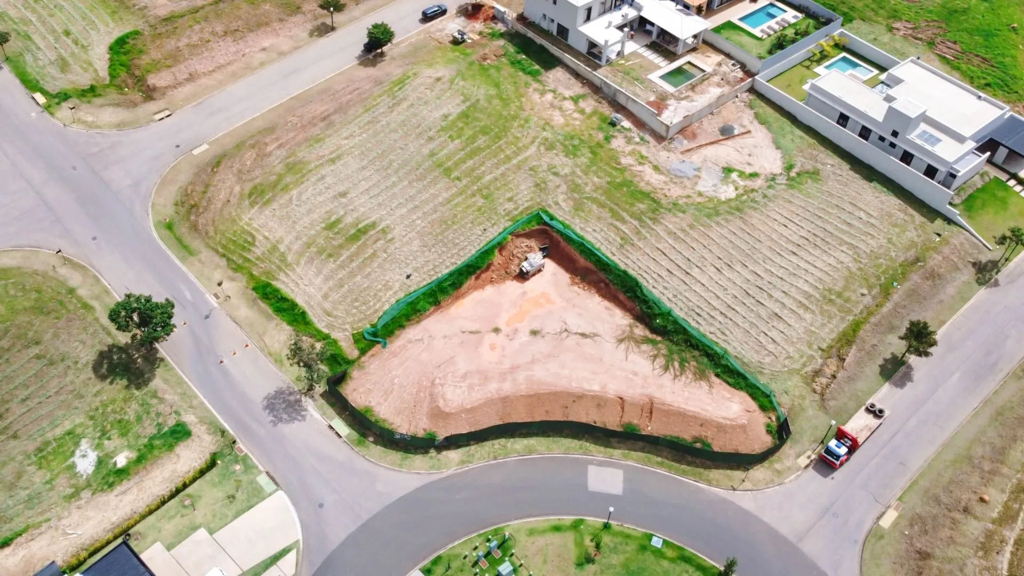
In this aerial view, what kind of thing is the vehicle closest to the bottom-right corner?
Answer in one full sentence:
What you see as the vehicle closest to the bottom-right corner is a truck.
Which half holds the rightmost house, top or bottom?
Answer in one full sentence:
The top half of the photo is where the rightmost house is.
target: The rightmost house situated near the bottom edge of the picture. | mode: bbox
[79,540,155,576]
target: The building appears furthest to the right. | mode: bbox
[801,50,1024,192]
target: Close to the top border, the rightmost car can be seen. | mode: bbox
[420,6,447,23]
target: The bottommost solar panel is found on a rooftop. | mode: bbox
[916,131,947,150]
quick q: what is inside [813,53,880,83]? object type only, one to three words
swimming pool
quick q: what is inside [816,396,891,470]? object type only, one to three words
truck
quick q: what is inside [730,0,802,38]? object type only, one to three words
swimming pool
